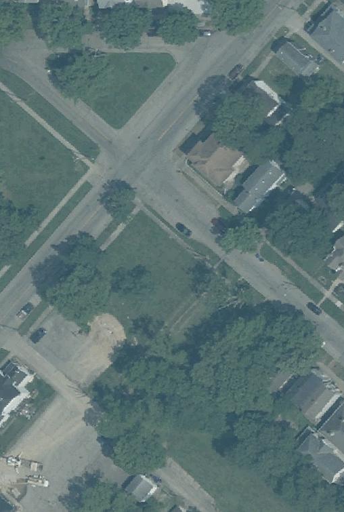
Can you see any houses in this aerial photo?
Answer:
Yes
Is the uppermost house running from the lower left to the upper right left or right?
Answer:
right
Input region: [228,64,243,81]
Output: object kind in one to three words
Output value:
car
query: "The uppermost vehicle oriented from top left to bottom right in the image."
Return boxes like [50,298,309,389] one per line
[176,222,193,236]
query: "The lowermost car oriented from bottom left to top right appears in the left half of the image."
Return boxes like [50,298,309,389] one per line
[30,328,47,343]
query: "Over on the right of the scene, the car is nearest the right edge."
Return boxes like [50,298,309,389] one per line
[306,301,322,316]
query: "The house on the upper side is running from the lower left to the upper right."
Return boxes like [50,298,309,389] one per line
[237,161,287,208]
